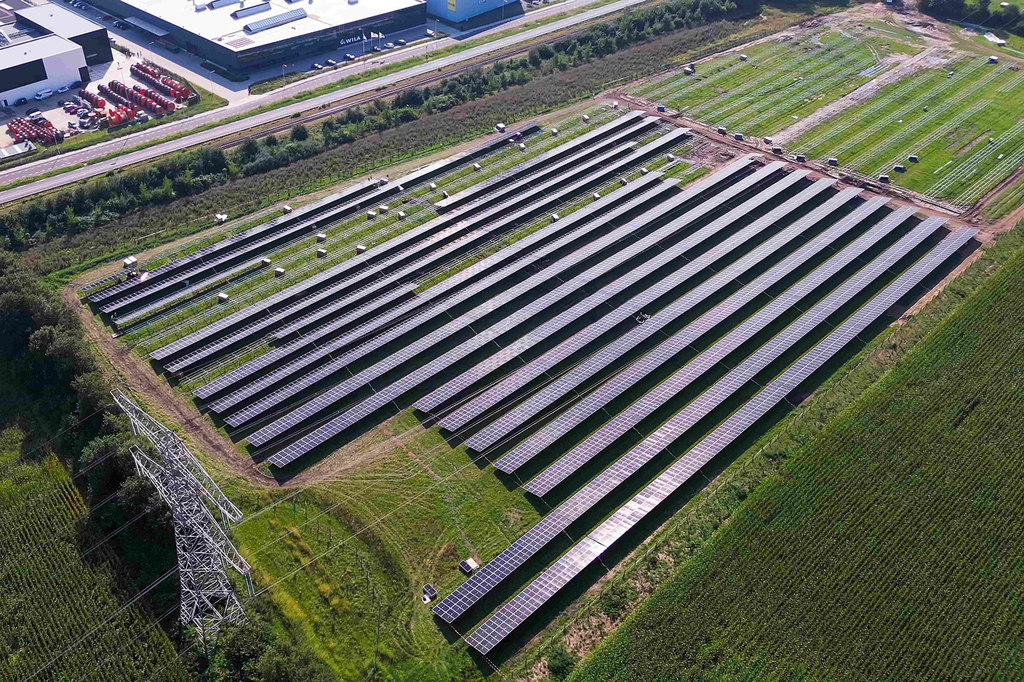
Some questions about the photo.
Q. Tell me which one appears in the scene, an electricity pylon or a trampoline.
electricity pylon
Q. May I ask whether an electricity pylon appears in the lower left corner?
Yes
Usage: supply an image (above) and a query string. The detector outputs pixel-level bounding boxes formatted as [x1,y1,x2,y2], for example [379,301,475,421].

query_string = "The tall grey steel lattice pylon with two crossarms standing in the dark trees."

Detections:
[110,394,267,646]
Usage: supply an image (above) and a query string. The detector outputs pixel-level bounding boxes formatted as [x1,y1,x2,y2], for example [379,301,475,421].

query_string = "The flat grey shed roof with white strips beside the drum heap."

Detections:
[0,141,40,169]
